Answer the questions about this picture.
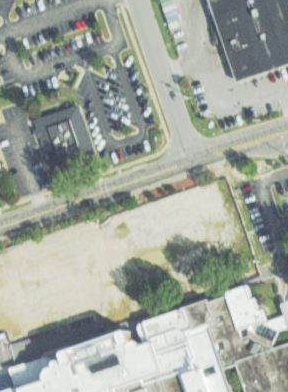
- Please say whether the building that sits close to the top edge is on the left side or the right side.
right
